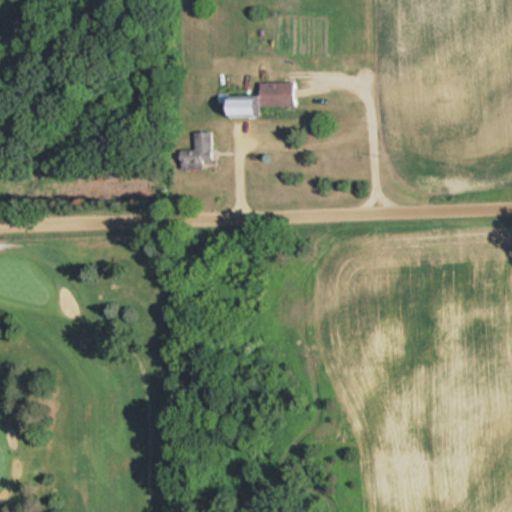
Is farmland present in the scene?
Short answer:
Yes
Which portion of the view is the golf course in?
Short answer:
bottom left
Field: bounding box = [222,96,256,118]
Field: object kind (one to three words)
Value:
barn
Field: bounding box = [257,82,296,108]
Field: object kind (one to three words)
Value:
barn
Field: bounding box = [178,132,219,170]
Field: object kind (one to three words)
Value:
house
